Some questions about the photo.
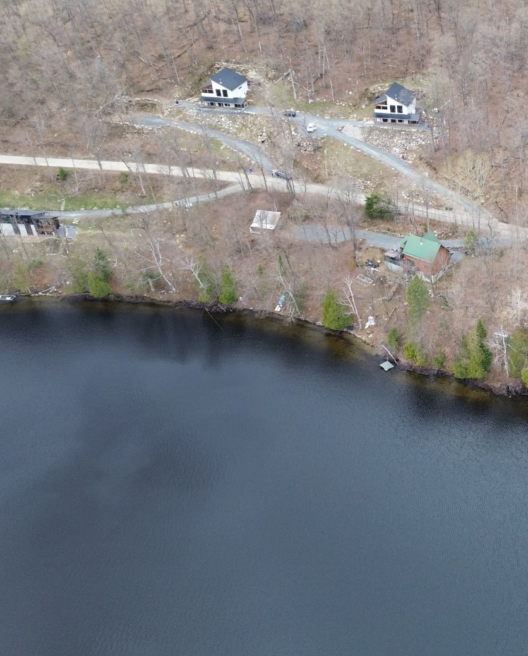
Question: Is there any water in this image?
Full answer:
Yes, water can be seen from above here.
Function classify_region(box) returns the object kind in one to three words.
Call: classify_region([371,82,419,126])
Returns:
house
